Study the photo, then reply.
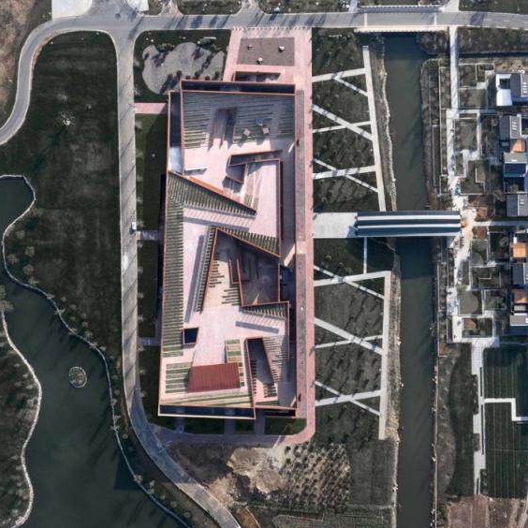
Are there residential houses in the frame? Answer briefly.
Yes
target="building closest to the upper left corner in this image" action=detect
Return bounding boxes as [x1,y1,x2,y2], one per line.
[158,71,300,419]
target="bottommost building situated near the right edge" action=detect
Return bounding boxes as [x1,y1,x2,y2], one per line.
[509,314,528,335]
